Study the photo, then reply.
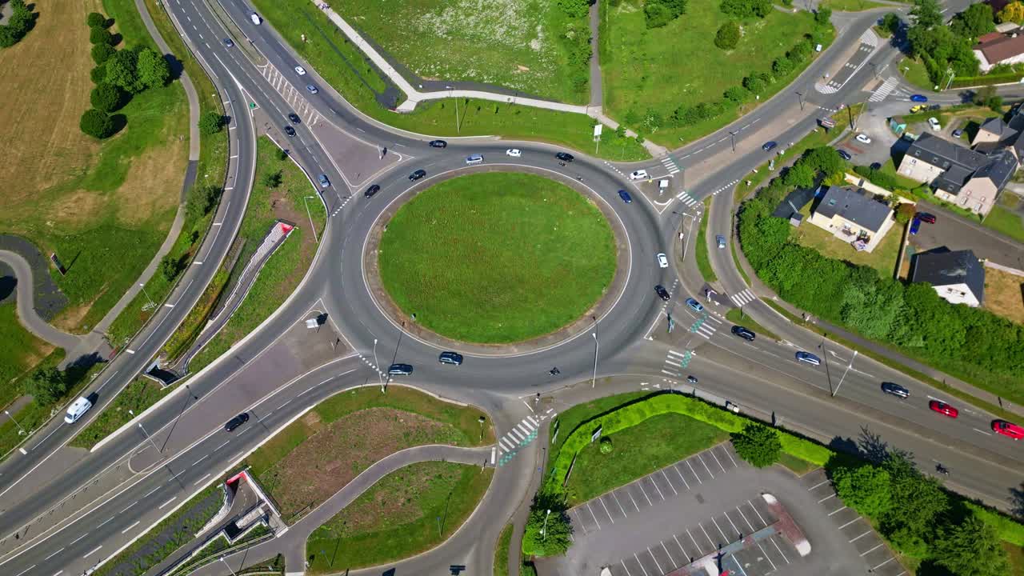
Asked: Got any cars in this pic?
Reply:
Yes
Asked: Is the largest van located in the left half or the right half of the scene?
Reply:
left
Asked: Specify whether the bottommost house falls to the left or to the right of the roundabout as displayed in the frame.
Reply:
right of it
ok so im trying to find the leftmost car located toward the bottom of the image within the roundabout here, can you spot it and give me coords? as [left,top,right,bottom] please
[388,363,413,376]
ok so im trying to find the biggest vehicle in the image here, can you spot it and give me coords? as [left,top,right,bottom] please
[63,392,96,425]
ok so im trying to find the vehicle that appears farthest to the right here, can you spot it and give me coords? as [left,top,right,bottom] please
[993,422,1022,439]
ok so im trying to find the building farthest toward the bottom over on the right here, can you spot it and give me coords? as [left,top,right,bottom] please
[918,249,987,305]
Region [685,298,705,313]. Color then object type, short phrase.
blue car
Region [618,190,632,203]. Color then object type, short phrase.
blue vehicle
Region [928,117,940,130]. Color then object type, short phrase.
white vehicle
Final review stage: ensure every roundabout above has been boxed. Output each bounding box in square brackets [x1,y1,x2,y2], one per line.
[277,122,708,433]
